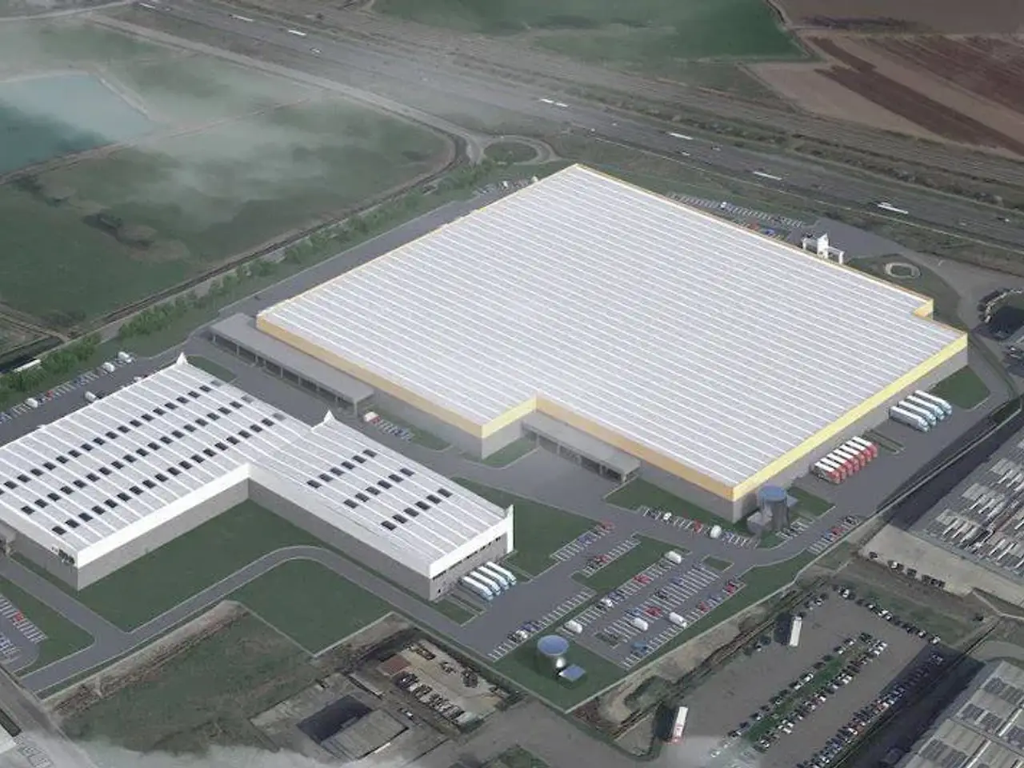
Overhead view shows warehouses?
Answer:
Yes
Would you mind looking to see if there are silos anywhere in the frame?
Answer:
Yes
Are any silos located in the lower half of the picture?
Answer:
Yes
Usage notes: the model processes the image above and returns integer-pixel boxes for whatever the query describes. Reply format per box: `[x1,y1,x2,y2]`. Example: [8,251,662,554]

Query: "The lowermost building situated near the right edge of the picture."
[892,661,1024,768]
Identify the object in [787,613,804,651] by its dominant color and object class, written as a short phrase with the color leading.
white vehicle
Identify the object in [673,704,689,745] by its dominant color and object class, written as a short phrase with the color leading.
white vehicle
